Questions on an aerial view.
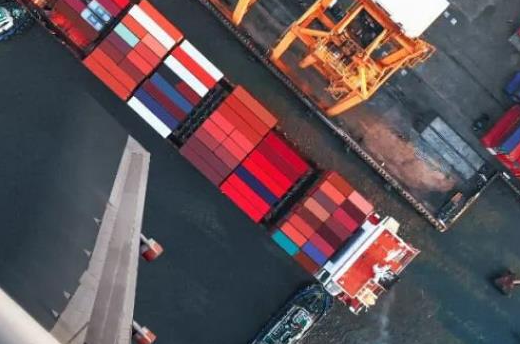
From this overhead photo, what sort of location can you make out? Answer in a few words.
port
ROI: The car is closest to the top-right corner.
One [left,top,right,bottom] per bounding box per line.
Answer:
[470,112,490,128]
